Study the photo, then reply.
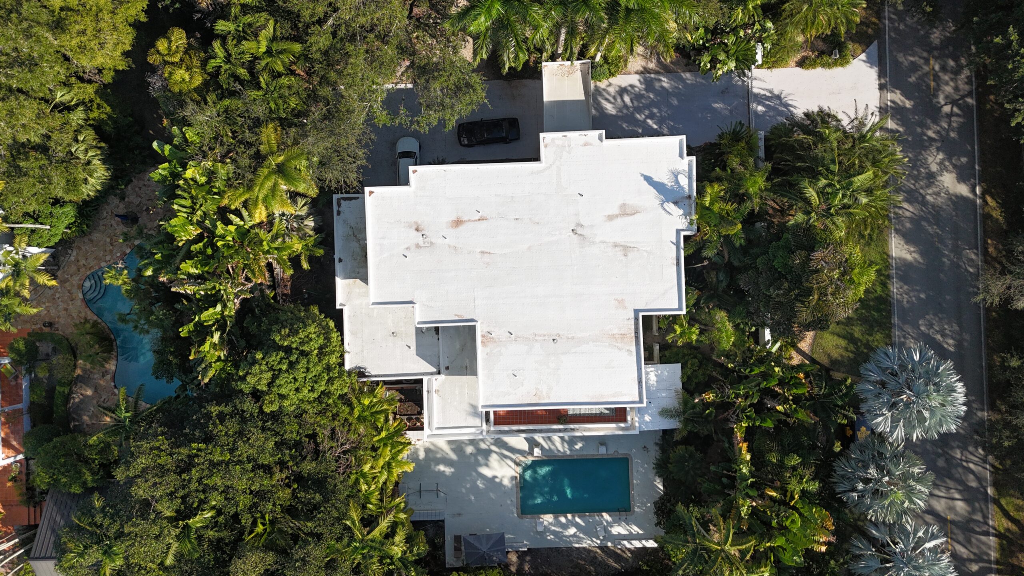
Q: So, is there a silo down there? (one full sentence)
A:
No, the frame has no silo in it.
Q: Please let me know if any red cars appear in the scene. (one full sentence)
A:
No, I can see no red car in this picture.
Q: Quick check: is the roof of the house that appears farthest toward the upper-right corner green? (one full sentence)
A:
No, from above the roof of the house that appears farthest toward the upper-right corner looks white.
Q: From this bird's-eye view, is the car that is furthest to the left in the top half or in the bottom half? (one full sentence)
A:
Seen from above, the car that is furthest to the left lies in the top half of the view.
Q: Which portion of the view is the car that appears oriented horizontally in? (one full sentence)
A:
The car that appears oriented horizontally is in the top part of the image.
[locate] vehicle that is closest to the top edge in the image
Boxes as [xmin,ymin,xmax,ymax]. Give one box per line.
[457,117,520,148]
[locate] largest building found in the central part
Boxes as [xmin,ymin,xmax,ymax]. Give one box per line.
[333,60,696,440]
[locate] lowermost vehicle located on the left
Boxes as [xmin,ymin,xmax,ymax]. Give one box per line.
[393,138,423,186]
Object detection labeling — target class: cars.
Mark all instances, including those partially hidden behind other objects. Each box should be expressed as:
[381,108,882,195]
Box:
[393,138,423,186]
[457,117,520,148]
